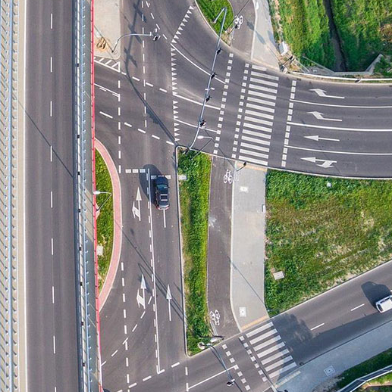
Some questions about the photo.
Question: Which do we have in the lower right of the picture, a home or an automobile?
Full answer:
Looking in the lower right of the picture, you will find an automobile.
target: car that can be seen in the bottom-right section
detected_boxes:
[372,293,392,314]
